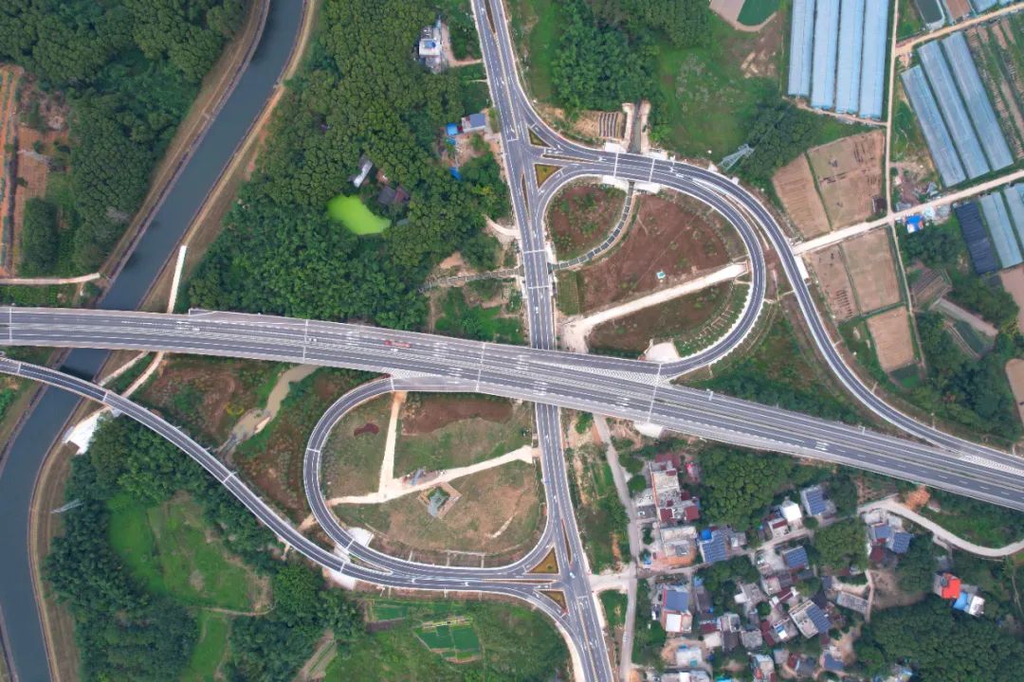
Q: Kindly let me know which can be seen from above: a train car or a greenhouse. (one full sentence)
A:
Visible in the photo is a greenhouse.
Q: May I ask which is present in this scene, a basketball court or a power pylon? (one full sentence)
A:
It is a power pylon that can be seen here.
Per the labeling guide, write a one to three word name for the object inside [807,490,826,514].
solar panel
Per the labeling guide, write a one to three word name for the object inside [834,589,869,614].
barn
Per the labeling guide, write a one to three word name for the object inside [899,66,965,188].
greenhouse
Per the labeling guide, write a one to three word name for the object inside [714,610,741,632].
house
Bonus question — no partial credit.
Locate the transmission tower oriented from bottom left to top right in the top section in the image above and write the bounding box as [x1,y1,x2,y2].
[717,141,752,171]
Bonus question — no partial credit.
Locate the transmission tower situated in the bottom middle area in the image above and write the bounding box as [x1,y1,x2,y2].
[430,487,451,516]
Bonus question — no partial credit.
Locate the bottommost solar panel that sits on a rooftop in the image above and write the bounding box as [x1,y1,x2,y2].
[807,605,831,632]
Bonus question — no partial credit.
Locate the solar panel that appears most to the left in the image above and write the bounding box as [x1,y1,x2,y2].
[703,539,725,562]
